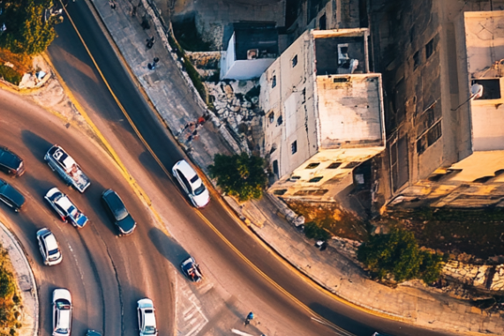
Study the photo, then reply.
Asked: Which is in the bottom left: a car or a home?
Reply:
car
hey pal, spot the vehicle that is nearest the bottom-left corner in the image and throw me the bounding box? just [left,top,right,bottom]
[49,289,76,336]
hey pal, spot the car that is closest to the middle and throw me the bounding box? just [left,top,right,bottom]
[168,157,212,211]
